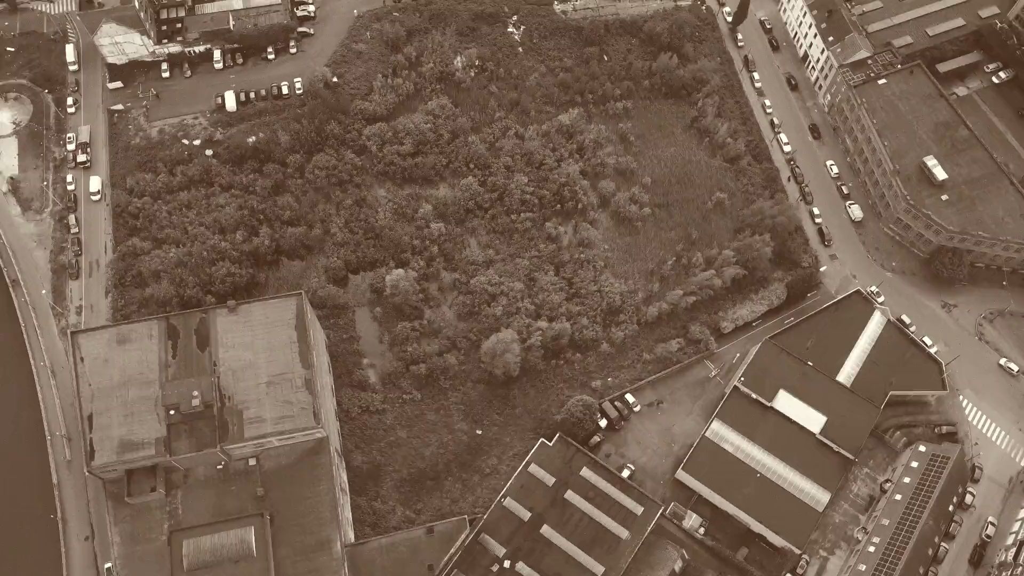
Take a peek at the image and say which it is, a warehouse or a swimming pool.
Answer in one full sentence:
Of the two, only a warehouse appears.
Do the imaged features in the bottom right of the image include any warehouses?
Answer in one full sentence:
Yes, in the bottom right of the image there is a warehouse.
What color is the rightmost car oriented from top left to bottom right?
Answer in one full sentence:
The color of the rightmost car oriented from top left to bottom right is white.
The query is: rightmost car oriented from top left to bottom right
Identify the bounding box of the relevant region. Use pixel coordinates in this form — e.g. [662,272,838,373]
[997,357,1021,377]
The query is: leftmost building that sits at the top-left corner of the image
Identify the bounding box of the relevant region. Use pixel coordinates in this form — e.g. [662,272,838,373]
[133,0,189,44]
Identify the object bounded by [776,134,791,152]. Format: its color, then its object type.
white car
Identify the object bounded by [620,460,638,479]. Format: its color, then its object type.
white car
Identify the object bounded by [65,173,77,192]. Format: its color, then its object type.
white vehicle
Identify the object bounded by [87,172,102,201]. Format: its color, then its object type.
white vehicle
